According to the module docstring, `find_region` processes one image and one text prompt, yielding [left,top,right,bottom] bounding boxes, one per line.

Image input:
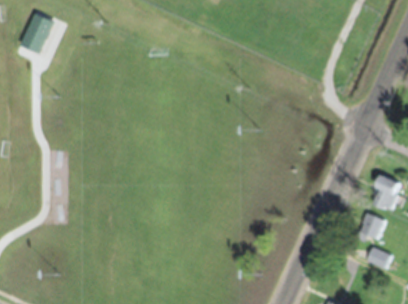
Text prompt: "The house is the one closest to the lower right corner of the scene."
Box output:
[368,246,394,268]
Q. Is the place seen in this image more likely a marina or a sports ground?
sports ground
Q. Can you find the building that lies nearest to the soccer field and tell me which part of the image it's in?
top left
